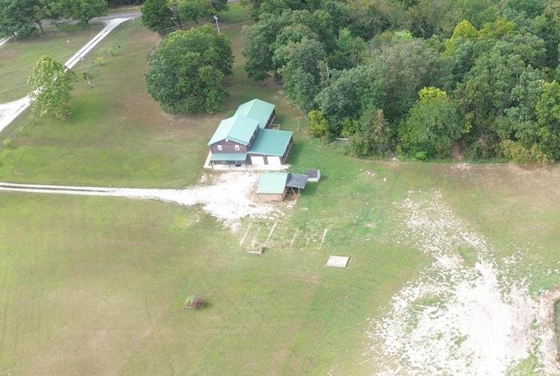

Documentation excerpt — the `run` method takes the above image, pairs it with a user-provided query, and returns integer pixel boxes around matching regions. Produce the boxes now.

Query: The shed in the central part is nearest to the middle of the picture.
[256,173,309,202]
